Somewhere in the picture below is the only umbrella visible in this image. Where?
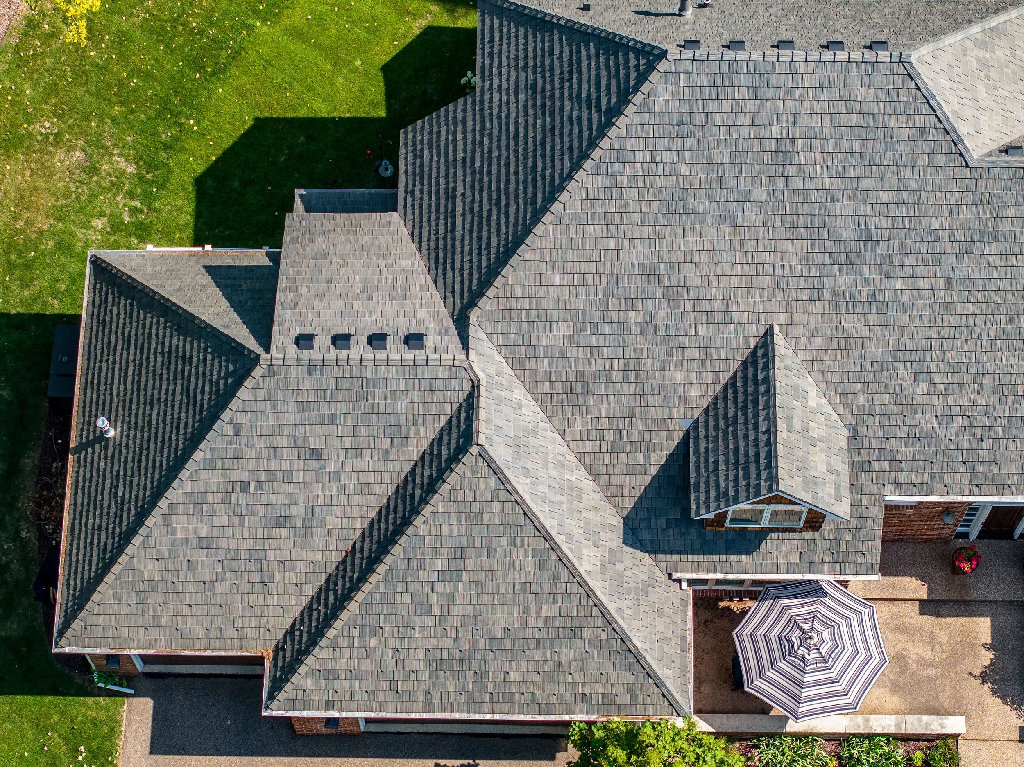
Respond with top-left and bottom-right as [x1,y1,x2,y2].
[732,585,890,723]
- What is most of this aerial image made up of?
buildings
